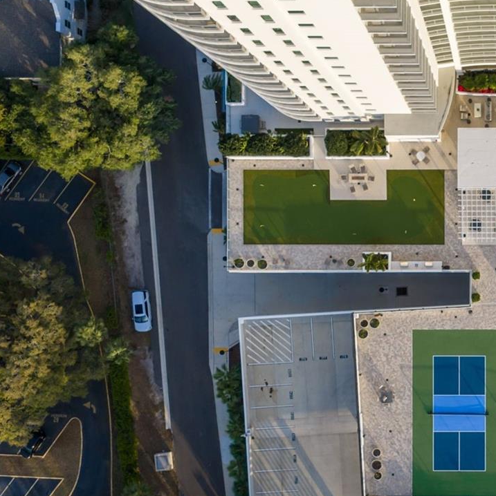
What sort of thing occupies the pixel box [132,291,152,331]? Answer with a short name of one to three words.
car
